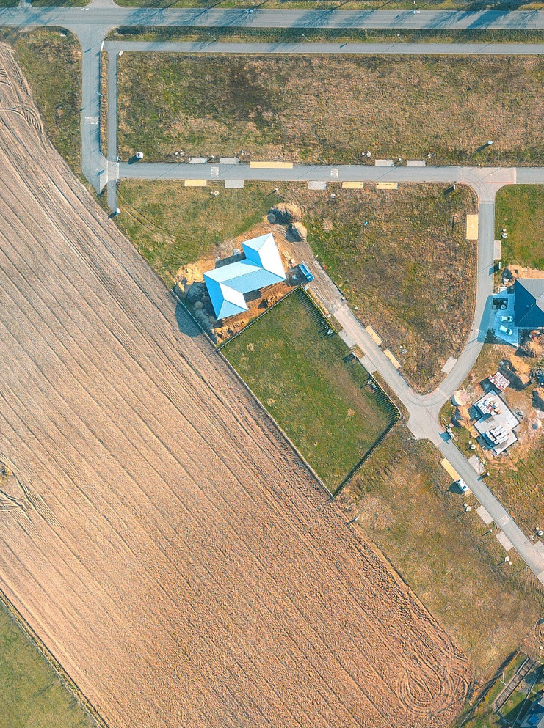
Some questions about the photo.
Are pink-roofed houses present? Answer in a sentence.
No, I can see no pink-roofed house in this picture.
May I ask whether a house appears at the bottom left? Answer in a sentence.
No, looking at the bottom left, there is no house.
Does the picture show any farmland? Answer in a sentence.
Yes, farmland shows up in the scene.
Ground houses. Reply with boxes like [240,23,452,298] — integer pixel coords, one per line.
[203,233,288,319]
[521,690,544,728]
[515,279,544,327]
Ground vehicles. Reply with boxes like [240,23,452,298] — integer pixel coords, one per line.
[500,316,513,322]
[499,324,512,336]
[456,479,469,494]
[296,261,313,282]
